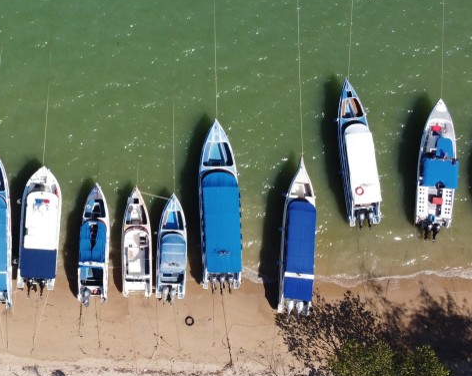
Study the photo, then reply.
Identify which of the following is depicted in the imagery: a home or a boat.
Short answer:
boat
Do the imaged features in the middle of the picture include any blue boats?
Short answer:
Yes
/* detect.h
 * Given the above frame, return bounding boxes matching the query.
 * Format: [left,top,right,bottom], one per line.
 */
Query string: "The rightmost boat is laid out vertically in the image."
[411,99,458,233]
